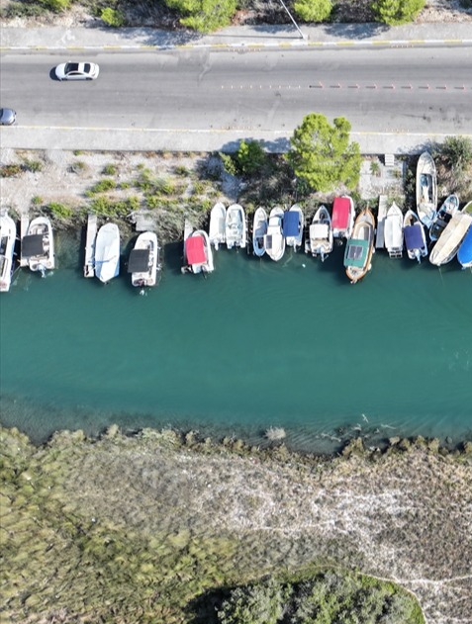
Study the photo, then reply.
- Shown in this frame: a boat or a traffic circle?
boat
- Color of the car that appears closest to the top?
white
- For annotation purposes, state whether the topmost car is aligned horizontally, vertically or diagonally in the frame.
horizontally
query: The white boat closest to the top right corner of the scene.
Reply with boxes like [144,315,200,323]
[417,159,438,230]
